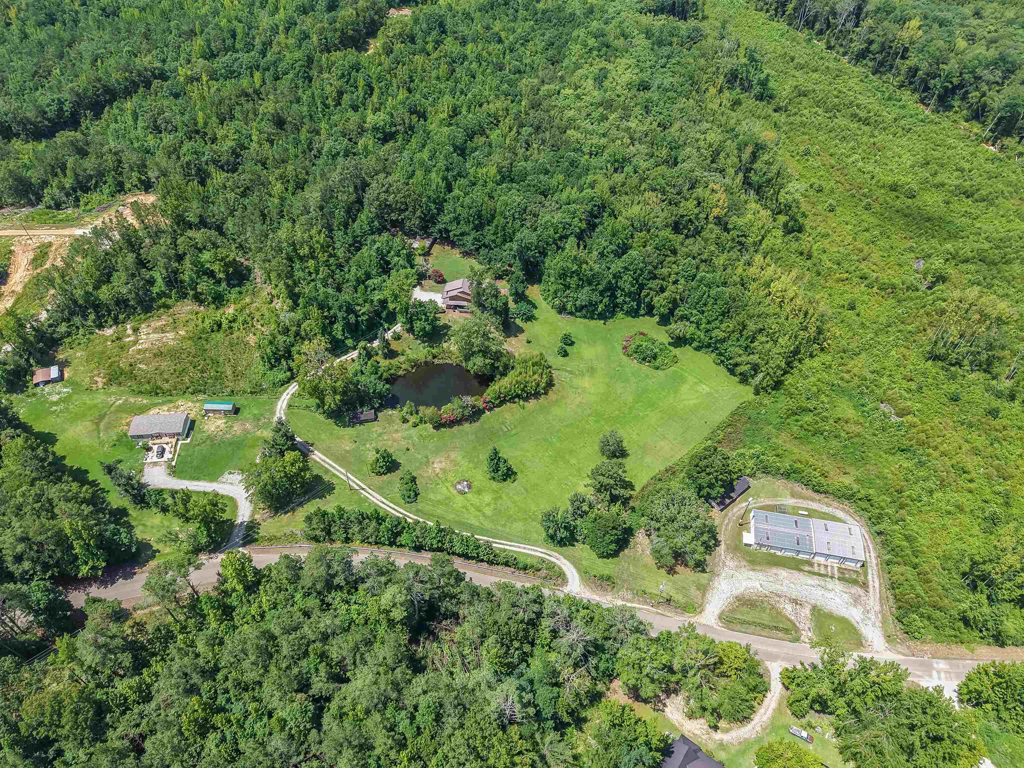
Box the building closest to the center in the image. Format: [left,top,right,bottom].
[441,270,483,310]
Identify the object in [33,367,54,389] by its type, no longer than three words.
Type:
shed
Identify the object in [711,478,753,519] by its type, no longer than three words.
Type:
shed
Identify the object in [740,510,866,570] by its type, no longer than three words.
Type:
building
